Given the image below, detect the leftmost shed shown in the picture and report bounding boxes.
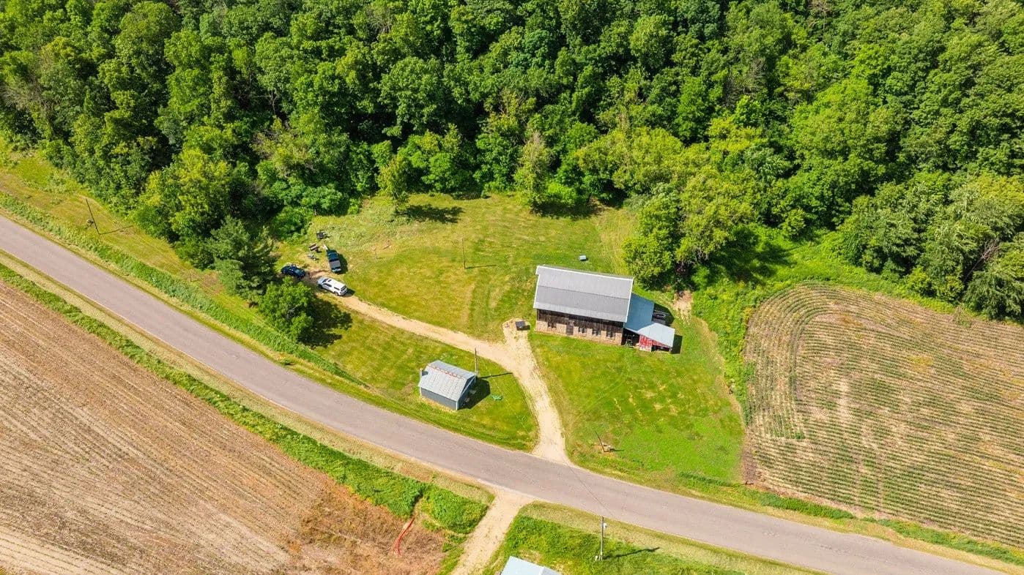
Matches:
[416,362,474,410]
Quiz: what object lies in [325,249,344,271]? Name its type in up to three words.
vehicle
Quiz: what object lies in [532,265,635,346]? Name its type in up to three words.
barn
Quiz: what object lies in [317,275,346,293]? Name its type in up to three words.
car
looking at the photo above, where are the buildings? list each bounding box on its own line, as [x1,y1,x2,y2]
[532,265,635,346]
[416,362,474,410]
[503,557,561,575]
